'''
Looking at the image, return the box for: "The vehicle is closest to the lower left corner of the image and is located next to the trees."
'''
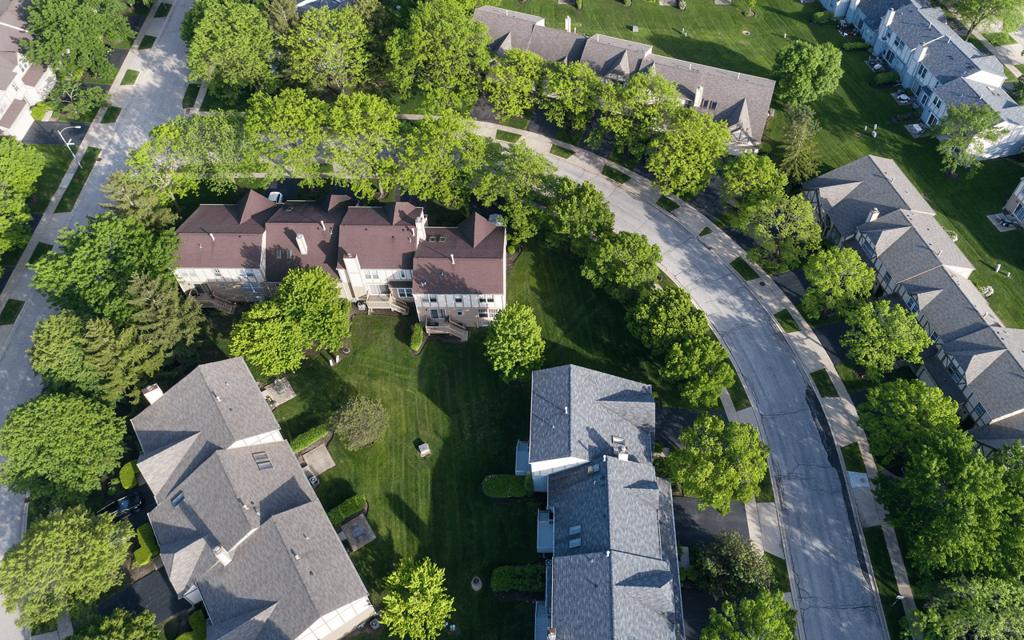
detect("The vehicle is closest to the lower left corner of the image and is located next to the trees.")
[98,486,144,518]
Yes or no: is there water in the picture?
No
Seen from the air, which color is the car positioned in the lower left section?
black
